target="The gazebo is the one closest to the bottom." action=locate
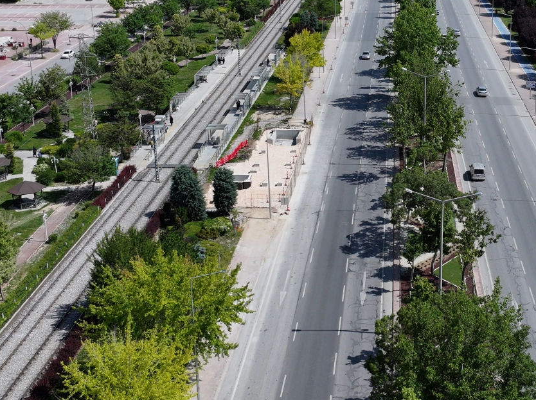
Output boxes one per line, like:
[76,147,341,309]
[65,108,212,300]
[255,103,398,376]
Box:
[1,175,48,209]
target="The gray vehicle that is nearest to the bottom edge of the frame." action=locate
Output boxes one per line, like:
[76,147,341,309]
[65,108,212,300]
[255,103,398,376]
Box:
[466,158,487,182]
